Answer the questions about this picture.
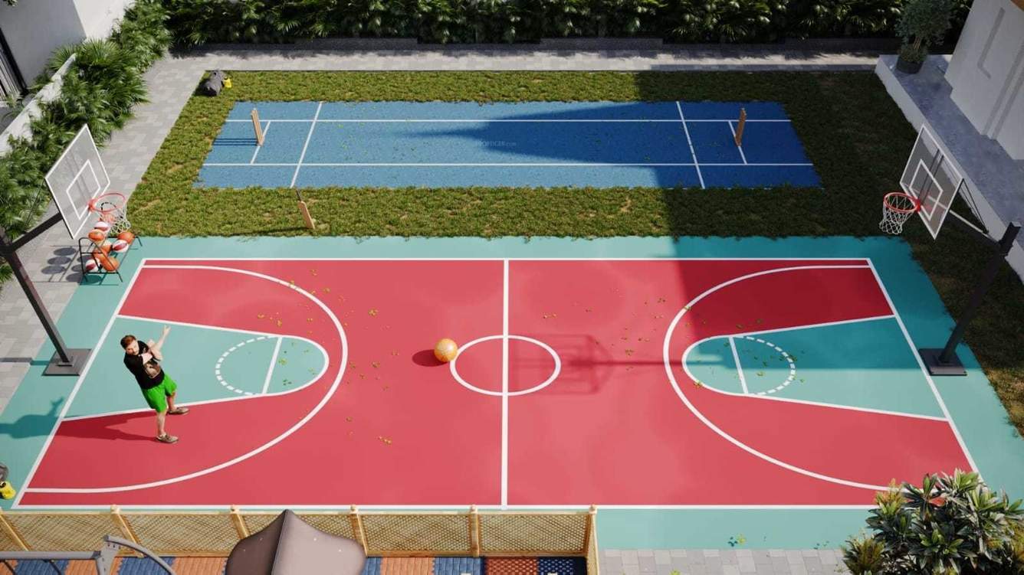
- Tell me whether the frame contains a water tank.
No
